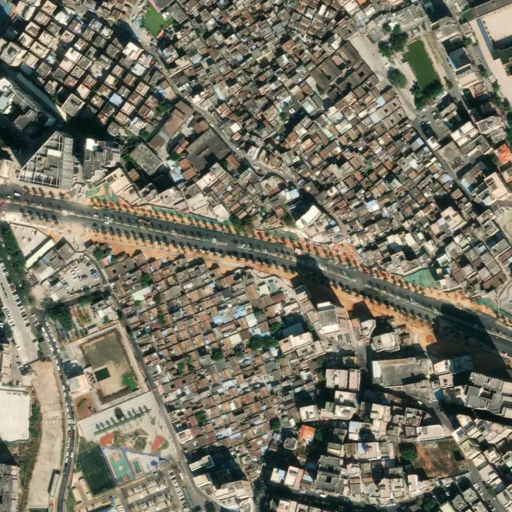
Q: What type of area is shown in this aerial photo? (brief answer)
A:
residential area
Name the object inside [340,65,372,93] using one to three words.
house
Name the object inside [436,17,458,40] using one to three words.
building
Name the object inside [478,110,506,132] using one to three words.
building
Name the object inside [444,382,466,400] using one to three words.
house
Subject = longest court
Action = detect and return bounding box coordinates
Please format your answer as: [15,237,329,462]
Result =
[105,450,130,485]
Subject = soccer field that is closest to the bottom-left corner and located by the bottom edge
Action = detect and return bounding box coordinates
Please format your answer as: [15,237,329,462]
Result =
[80,449,116,496]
